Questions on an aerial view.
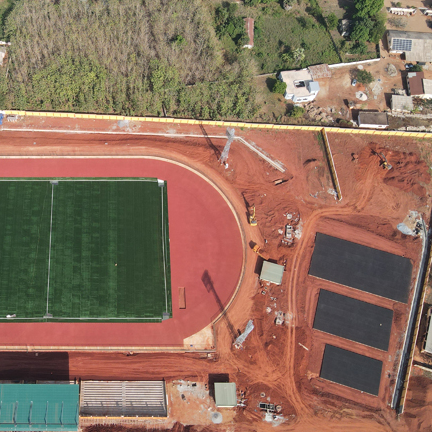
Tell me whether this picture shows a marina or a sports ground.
sports ground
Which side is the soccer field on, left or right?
left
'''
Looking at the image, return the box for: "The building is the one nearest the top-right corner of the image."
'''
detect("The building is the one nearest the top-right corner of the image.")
[386,30,432,67]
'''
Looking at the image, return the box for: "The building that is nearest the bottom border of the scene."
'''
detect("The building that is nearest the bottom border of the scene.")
[213,382,237,406]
